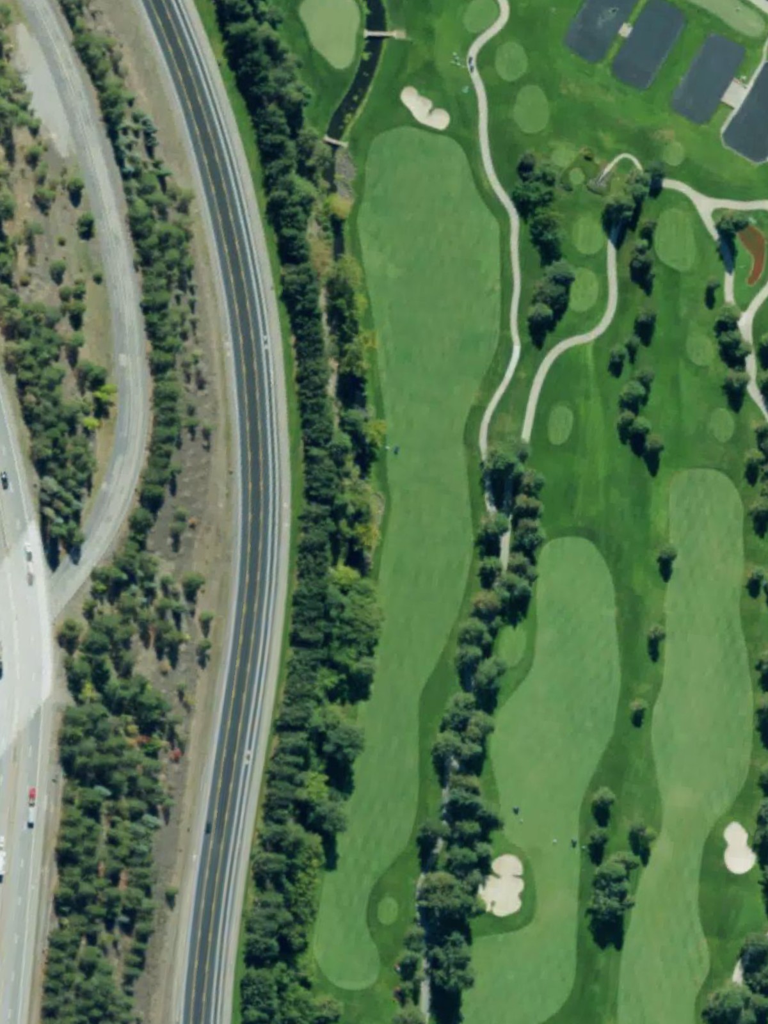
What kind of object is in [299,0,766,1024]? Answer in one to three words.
golf course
